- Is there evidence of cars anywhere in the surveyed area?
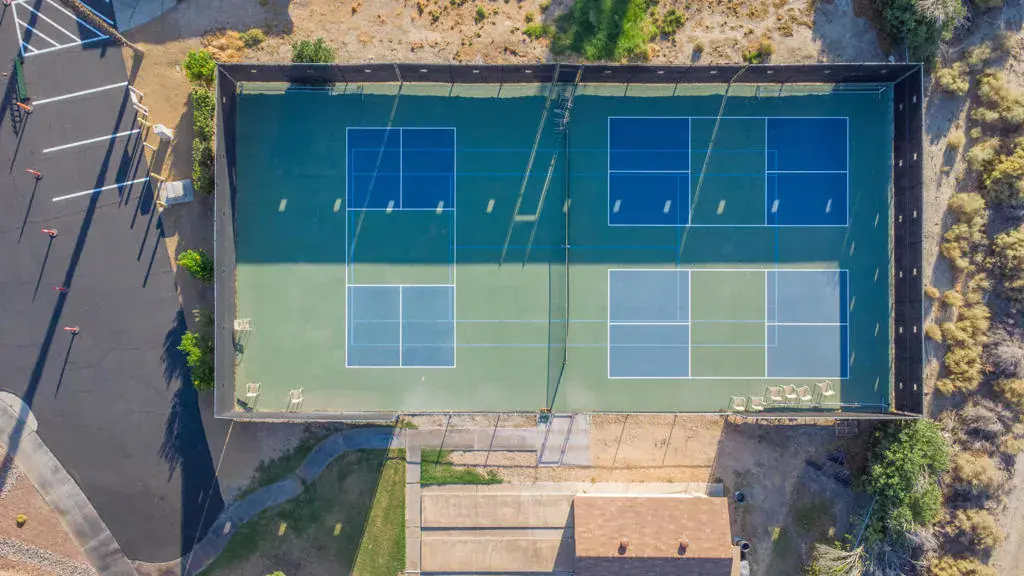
No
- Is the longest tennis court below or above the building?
above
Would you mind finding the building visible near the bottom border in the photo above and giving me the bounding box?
[573,495,741,576]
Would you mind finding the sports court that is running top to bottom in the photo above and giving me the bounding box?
[347,127,456,368]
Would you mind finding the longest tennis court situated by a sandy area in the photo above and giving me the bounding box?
[234,82,894,412]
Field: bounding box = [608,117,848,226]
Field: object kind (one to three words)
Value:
sports court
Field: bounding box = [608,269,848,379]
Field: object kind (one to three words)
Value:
sports court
